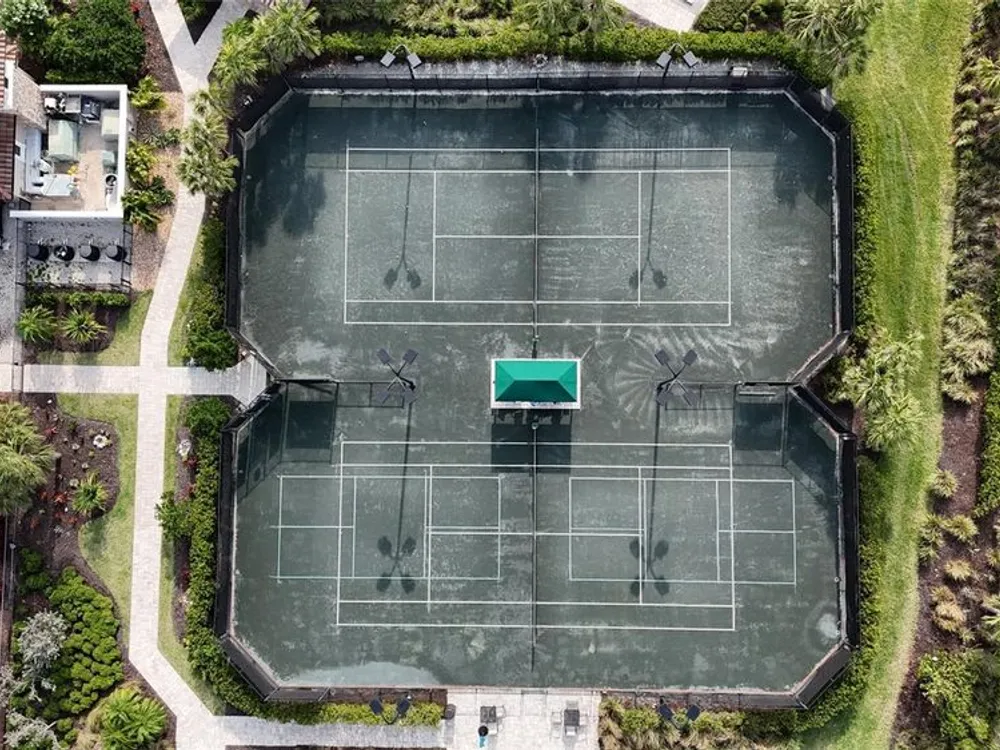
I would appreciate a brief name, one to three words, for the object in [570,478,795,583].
sports court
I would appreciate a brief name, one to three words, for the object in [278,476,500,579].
sports court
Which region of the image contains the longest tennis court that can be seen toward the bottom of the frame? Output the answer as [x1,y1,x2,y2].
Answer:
[233,379,843,690]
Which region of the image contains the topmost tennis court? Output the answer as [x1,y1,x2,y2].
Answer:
[242,93,837,382]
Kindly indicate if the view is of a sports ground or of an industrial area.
sports ground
